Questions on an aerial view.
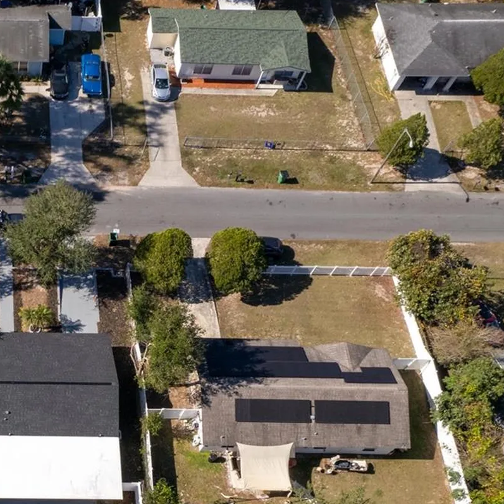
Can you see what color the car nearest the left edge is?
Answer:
black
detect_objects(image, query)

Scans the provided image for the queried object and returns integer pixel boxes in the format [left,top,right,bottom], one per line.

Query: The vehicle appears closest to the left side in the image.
[49,66,71,103]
